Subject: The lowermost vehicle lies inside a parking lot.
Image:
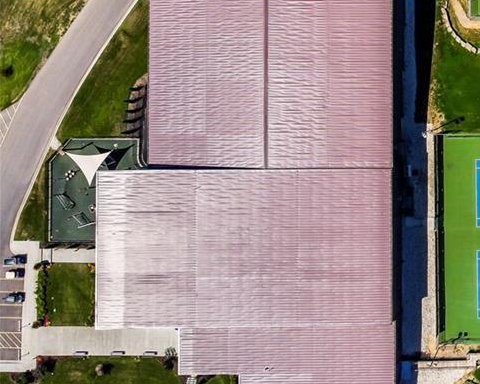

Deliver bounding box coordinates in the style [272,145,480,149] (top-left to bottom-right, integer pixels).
[0,293,24,306]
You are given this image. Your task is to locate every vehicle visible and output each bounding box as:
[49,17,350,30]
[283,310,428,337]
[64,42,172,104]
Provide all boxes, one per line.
[1,255,25,267]
[1,268,25,280]
[0,293,24,306]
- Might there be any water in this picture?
No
